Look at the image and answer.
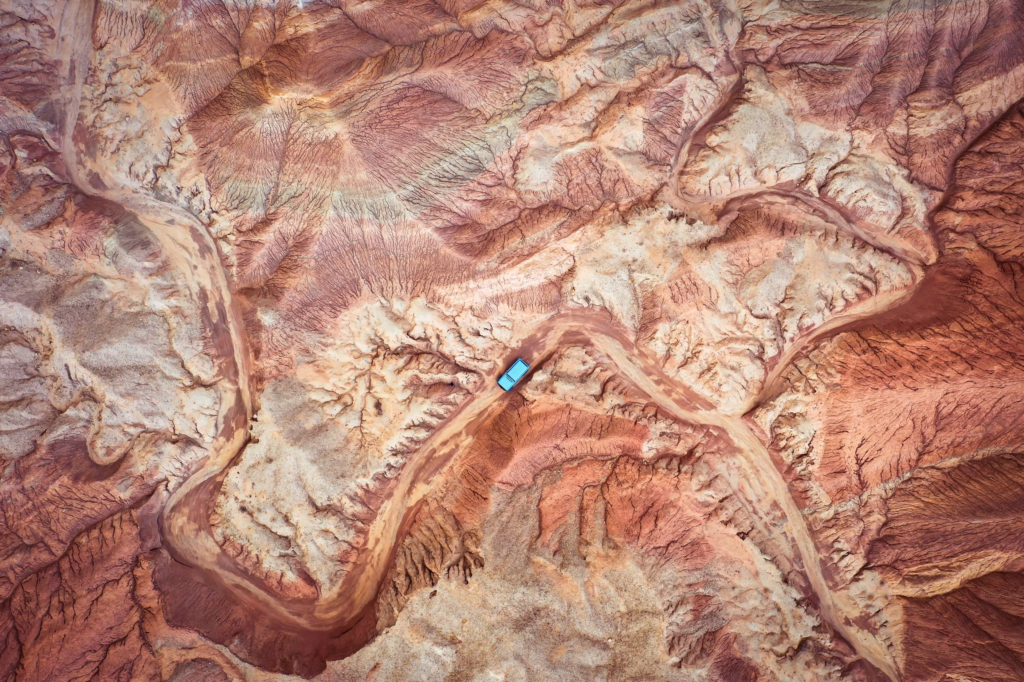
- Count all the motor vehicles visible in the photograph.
1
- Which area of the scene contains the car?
center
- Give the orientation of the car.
on a diagonal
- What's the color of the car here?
blue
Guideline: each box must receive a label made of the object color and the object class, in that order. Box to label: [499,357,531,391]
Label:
blue car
